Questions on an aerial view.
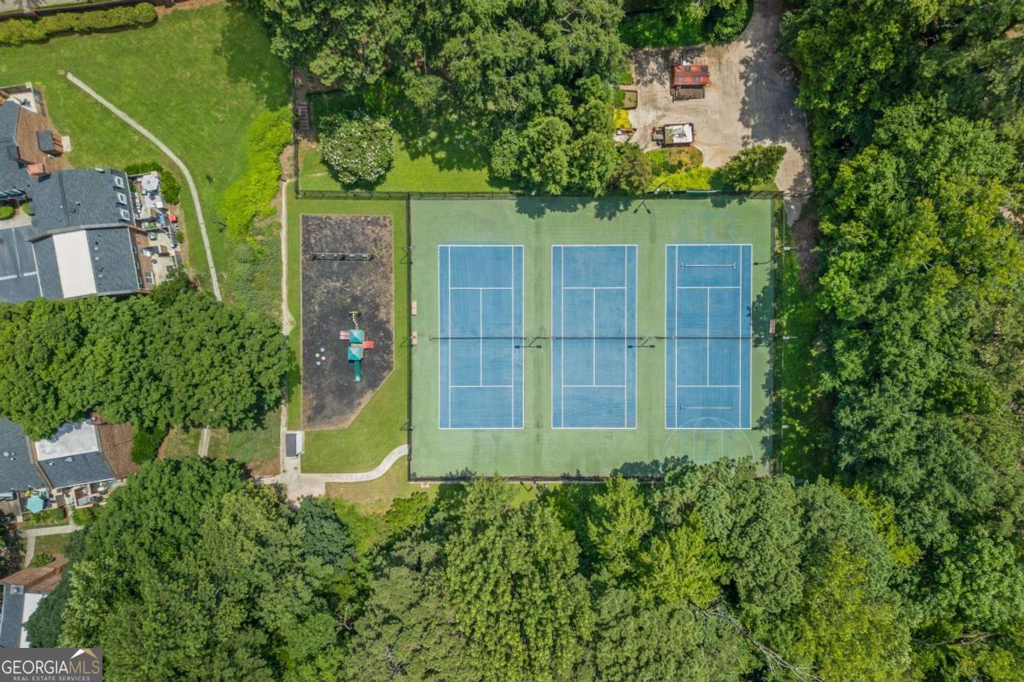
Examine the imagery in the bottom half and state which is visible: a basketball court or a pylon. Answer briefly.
basketball court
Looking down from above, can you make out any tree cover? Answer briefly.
Yes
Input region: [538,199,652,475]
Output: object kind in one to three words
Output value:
tennis court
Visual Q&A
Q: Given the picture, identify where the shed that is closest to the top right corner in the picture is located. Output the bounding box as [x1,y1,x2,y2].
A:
[671,65,709,102]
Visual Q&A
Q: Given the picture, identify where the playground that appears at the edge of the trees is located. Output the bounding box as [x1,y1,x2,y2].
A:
[300,214,395,429]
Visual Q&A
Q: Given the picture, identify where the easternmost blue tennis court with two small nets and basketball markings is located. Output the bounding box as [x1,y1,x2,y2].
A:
[652,199,773,475]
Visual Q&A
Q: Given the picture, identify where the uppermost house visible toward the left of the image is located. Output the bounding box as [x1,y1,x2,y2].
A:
[0,102,77,205]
